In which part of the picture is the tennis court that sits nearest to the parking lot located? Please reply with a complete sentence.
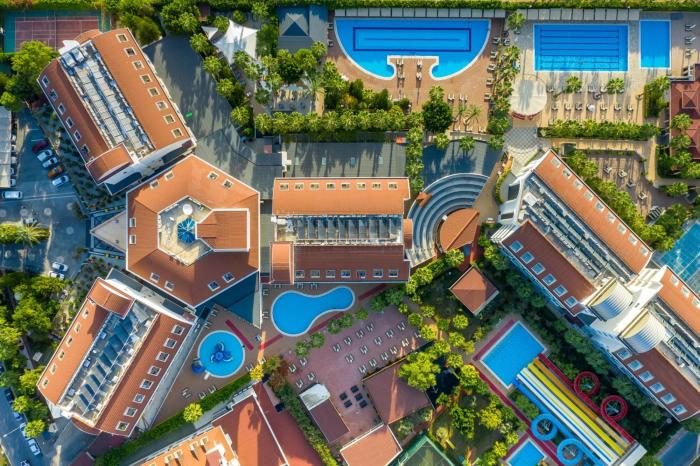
The tennis court that sits nearest to the parking lot is located in the top left region of the scene.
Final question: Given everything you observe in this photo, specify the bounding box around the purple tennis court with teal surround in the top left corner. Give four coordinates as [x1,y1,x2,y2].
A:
[3,9,109,60]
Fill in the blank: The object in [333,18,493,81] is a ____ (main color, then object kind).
blue swimming pool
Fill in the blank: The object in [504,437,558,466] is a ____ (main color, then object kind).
blue swimming pool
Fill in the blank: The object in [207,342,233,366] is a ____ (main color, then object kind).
blue fountain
